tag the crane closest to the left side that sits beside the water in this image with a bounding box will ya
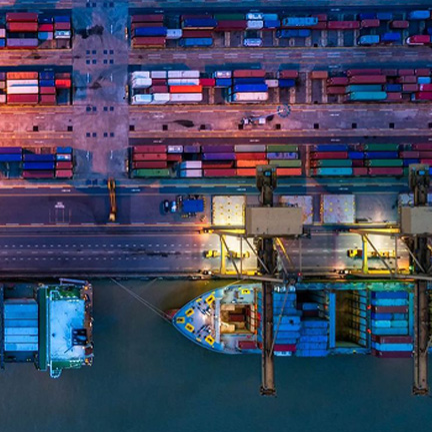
[205,166,299,395]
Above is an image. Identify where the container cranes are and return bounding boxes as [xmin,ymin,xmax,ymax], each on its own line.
[205,166,299,395]
[347,164,432,395]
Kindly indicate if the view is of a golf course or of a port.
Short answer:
port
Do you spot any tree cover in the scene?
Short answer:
No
